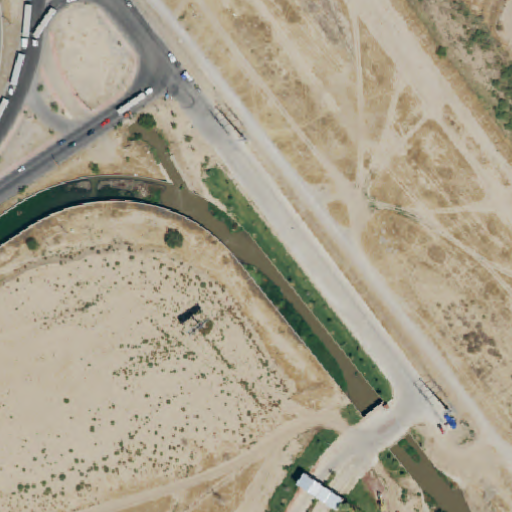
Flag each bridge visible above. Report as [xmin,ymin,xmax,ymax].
[362,400,408,450]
